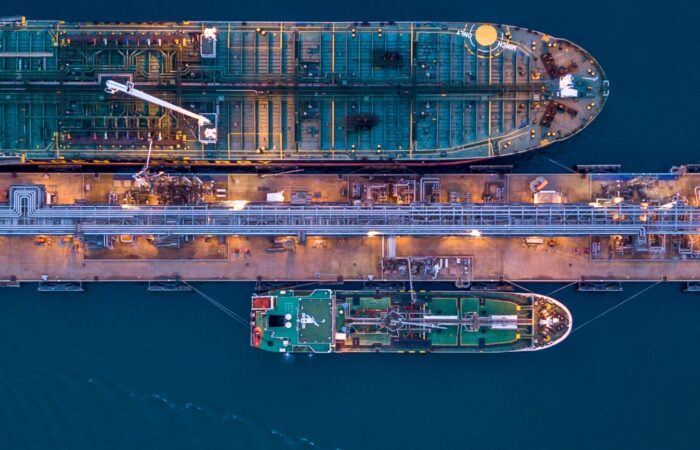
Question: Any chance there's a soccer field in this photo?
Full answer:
No, this view has no soccer field in it.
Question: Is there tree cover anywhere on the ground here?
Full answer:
No, no tree cover is visible.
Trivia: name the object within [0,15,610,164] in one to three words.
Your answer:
ship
